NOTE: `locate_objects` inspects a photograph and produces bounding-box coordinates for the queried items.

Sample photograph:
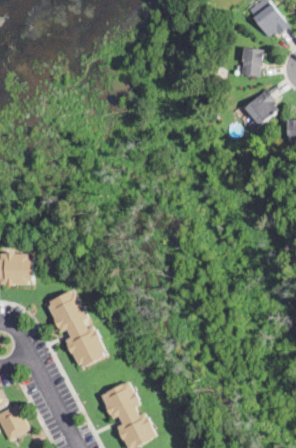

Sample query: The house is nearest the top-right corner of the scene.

[250,0,292,38]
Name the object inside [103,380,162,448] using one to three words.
building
